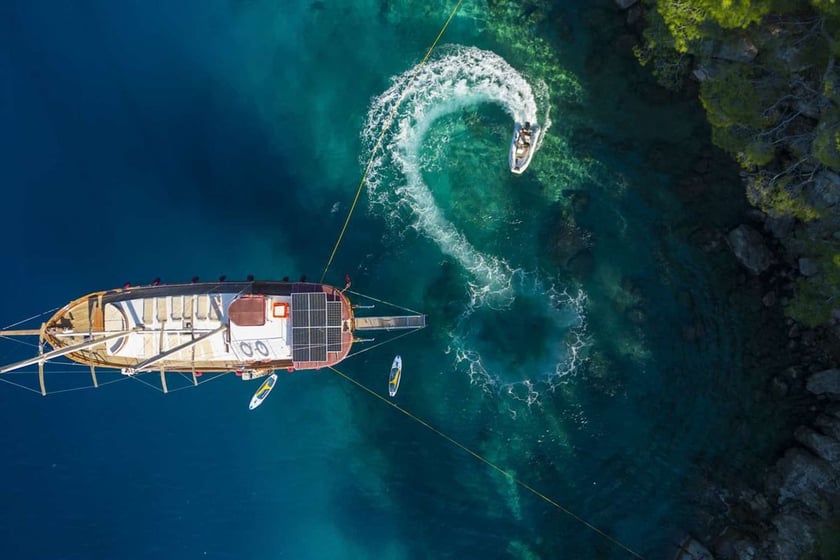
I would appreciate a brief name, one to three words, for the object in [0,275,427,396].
boat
